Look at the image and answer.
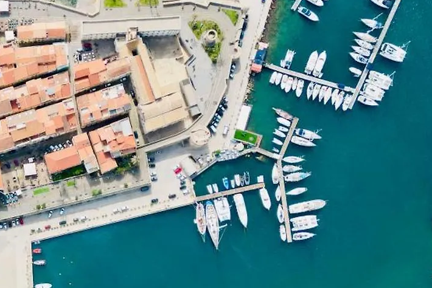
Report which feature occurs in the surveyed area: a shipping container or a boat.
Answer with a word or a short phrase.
boat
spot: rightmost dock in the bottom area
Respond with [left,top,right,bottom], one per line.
[277,117,297,242]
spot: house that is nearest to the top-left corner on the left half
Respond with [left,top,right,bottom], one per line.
[17,24,47,42]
